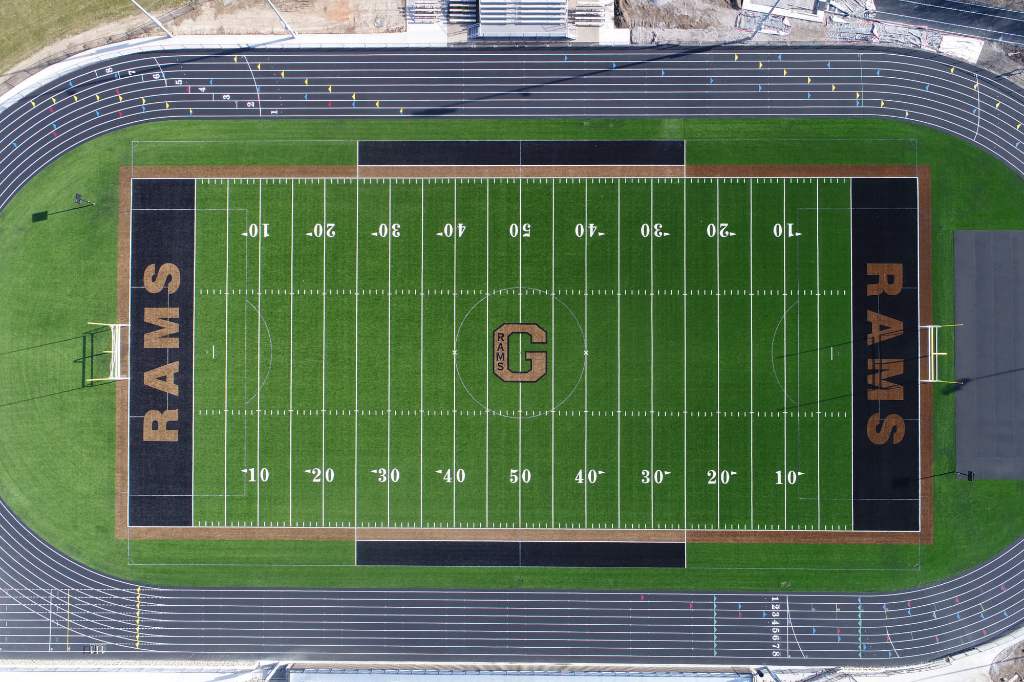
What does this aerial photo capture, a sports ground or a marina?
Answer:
sports ground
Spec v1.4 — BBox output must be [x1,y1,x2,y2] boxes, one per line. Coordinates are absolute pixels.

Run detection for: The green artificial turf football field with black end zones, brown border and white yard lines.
[0,117,1024,592]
